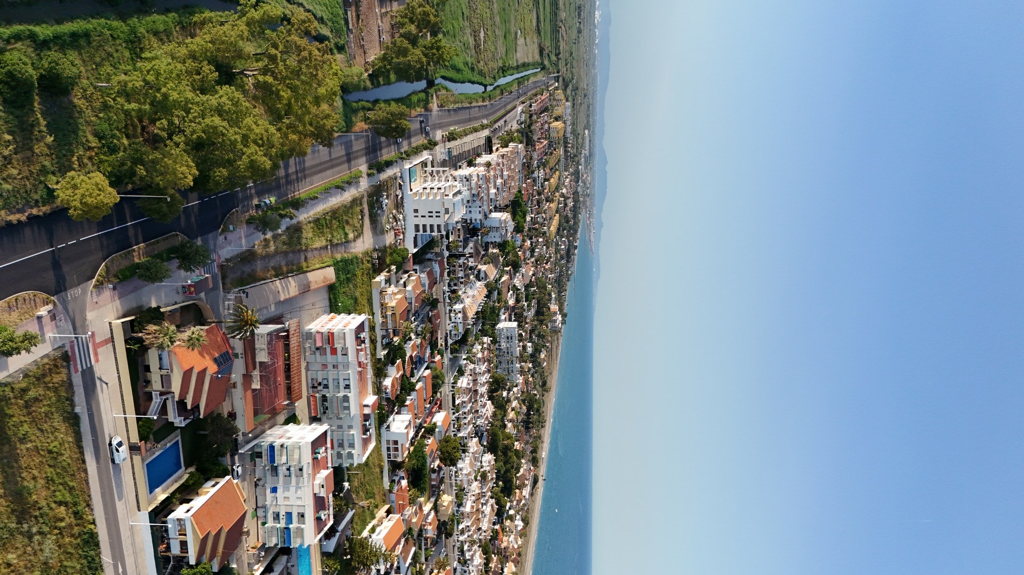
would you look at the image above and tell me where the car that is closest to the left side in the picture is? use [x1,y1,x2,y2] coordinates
[110,436,128,466]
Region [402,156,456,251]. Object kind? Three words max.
building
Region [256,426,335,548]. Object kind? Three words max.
building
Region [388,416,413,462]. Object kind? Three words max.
house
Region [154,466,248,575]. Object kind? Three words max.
house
